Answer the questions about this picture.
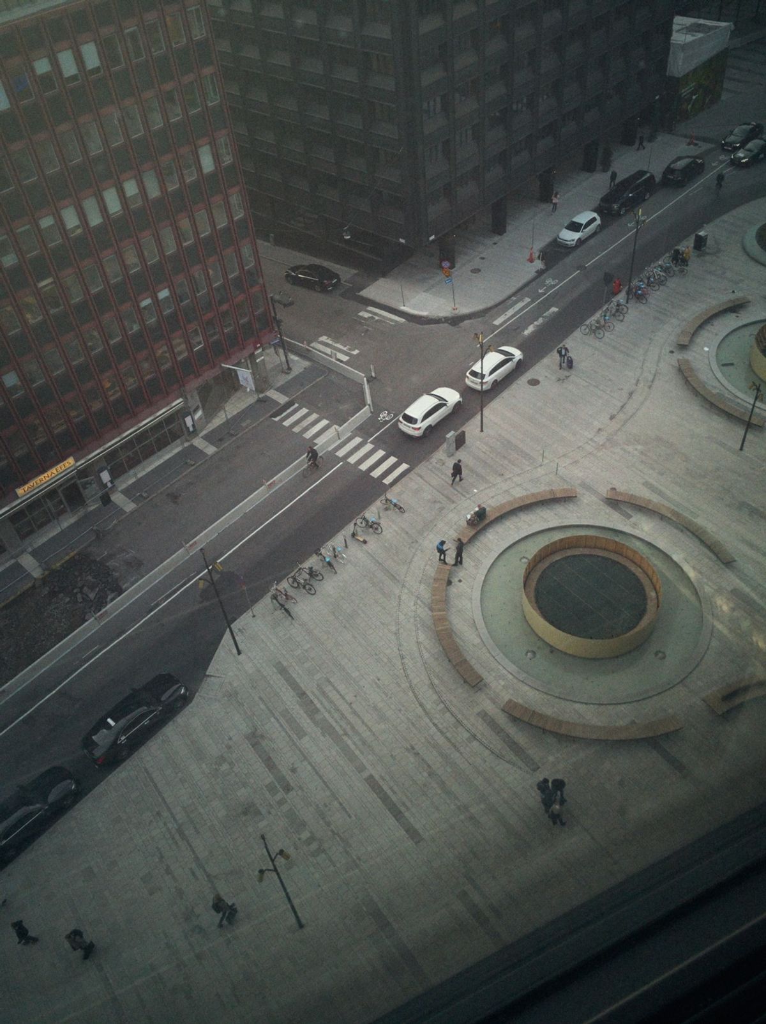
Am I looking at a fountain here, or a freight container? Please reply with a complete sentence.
Visible in the photo is a fountain.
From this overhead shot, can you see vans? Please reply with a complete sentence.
Yes, the picture does show a van.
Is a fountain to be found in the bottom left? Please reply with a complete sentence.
No, no fountain can be made out in the bottom left.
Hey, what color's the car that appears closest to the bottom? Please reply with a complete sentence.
The car that appears closest to the bottom is black.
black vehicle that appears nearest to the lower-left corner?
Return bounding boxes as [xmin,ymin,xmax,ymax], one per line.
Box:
[0,762,79,858]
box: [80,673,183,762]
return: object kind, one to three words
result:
car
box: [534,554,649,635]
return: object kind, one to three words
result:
pond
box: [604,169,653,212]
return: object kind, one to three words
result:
van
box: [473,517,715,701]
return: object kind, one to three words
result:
fountain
